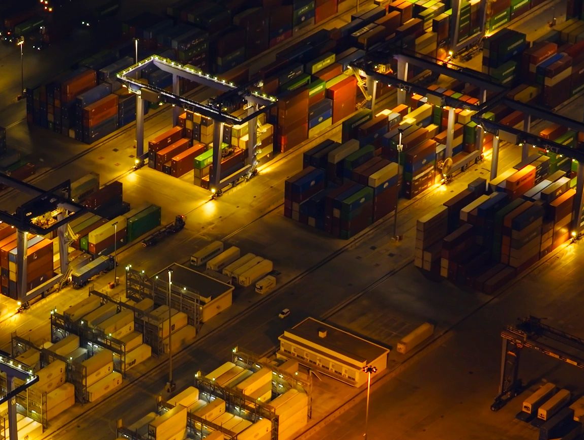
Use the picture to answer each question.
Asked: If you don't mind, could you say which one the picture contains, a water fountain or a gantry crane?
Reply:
gantry crane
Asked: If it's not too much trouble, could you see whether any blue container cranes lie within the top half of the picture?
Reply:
No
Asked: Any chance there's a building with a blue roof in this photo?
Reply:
No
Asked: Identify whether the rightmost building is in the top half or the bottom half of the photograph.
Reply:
bottom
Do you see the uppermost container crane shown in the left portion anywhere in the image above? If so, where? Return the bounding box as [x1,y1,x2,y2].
[108,54,282,197]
